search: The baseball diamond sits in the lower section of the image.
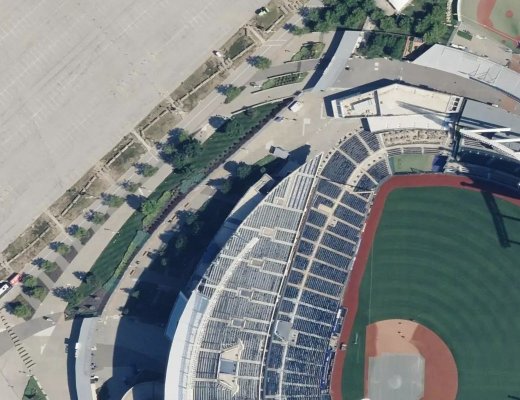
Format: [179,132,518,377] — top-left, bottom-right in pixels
[270,132,520,400]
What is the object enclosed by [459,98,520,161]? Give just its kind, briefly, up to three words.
building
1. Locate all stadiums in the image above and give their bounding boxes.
[128,128,520,400]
